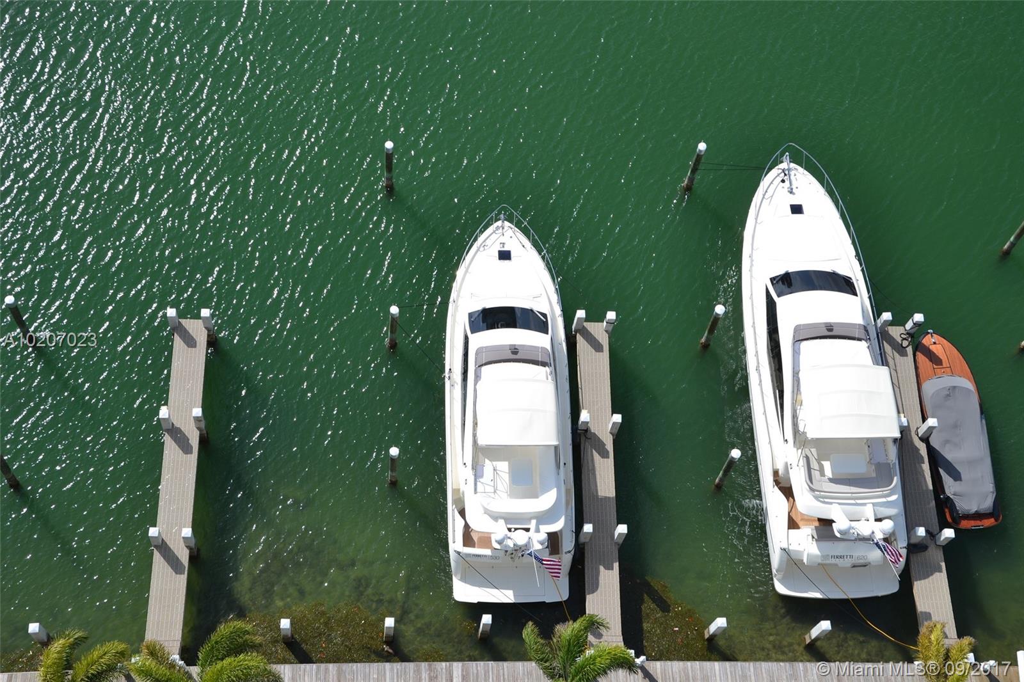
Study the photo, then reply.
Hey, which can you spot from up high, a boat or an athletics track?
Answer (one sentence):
I can see a boat in this picture.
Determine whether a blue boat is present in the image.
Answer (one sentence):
No, no blue boat can be seen from above.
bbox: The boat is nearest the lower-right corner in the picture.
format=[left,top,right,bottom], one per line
[915,328,998,533]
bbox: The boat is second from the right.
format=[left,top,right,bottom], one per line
[743,144,907,599]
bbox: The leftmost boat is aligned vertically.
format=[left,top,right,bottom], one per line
[445,206,574,604]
